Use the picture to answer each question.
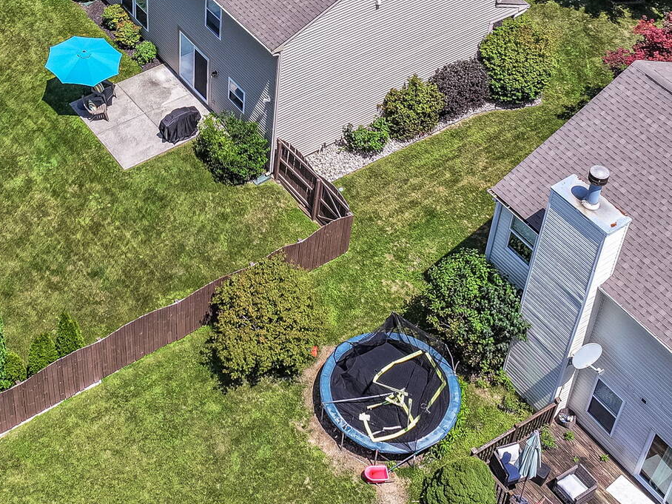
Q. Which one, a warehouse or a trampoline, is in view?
trampoline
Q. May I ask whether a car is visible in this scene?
No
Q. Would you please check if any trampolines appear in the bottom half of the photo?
Yes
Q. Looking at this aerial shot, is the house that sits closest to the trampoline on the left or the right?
right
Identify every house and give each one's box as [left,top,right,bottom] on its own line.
[105,0,533,175]
[478,60,672,504]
